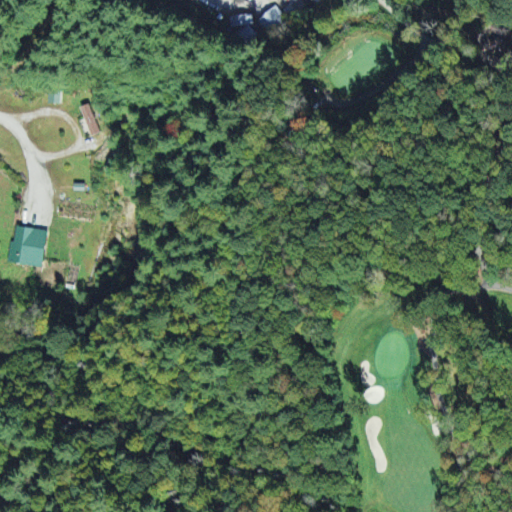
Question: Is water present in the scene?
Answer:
No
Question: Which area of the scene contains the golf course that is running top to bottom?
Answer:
bottom right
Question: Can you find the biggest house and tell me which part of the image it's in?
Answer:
left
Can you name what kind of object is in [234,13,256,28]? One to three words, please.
house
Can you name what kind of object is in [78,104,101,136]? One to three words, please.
house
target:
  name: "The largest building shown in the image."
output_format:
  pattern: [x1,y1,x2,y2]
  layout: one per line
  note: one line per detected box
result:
[8,226,47,267]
